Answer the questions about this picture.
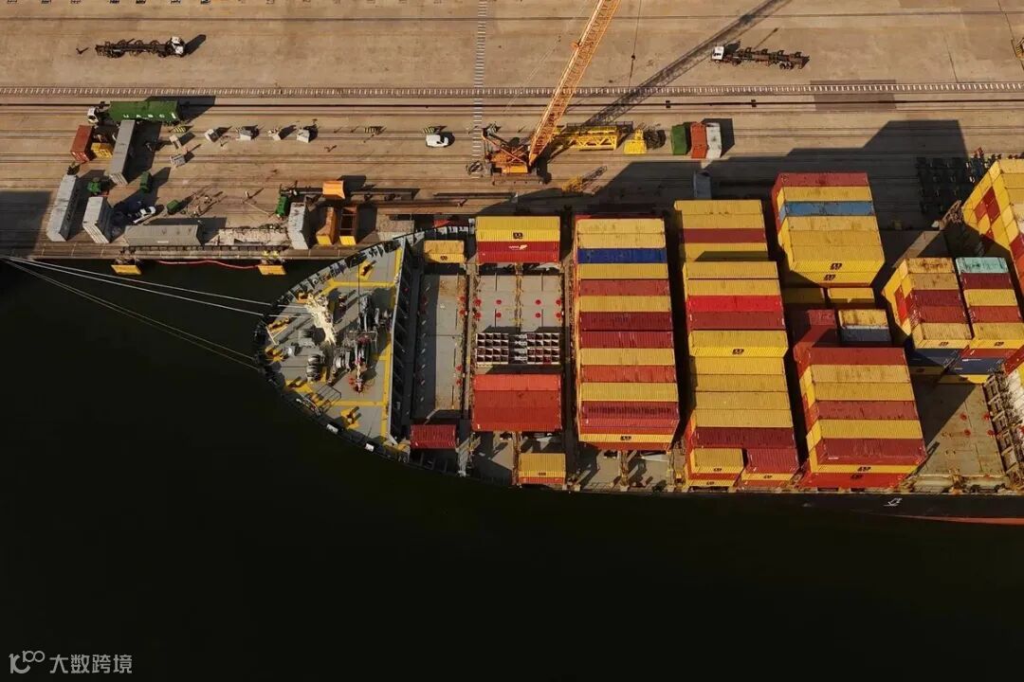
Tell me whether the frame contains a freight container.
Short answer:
Yes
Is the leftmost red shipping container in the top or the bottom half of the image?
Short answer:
top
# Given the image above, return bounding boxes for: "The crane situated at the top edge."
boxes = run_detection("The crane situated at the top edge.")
[477,0,644,187]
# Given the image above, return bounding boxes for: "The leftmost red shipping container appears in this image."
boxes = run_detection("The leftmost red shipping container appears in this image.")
[71,124,97,160]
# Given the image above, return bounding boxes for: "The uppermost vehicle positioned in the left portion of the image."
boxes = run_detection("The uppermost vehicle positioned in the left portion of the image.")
[100,38,191,58]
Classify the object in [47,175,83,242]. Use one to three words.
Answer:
shipping container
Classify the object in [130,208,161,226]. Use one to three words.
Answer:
vehicle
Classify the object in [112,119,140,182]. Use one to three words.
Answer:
shipping container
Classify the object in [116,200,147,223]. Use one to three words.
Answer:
truck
